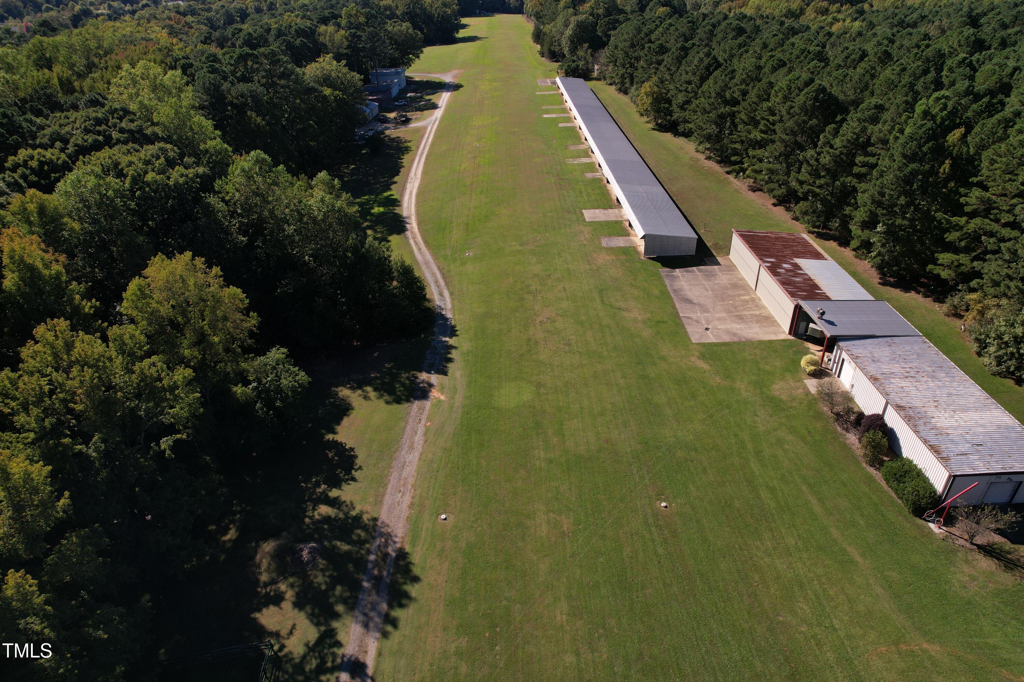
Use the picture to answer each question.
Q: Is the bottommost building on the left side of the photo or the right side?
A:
right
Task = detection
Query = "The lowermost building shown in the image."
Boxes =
[830,336,1024,505]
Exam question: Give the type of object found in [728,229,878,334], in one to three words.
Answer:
hangar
